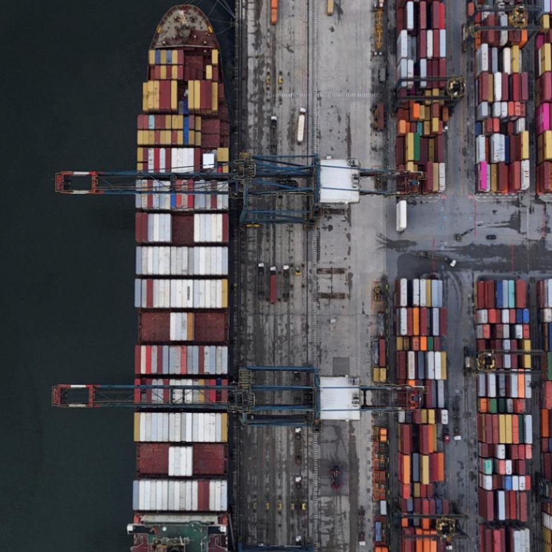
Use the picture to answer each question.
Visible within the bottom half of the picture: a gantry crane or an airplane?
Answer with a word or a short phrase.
gantry crane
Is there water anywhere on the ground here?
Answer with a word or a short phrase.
Yes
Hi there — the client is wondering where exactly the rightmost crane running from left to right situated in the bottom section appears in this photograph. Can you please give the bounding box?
[468,347,545,377]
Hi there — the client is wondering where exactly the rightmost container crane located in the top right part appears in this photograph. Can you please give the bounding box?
[466,6,541,50]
